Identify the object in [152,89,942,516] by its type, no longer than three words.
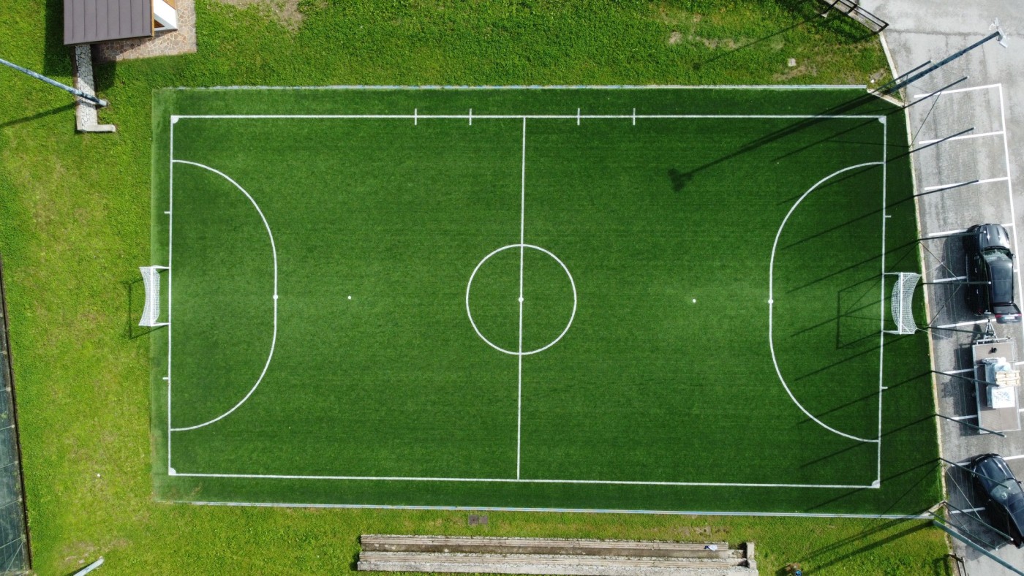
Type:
soccer field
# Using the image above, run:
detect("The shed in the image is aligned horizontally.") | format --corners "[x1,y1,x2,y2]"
[64,0,176,46]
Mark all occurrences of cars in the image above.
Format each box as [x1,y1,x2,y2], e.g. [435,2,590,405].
[961,222,1021,324]
[972,454,1024,547]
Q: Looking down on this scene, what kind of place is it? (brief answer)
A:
sports ground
